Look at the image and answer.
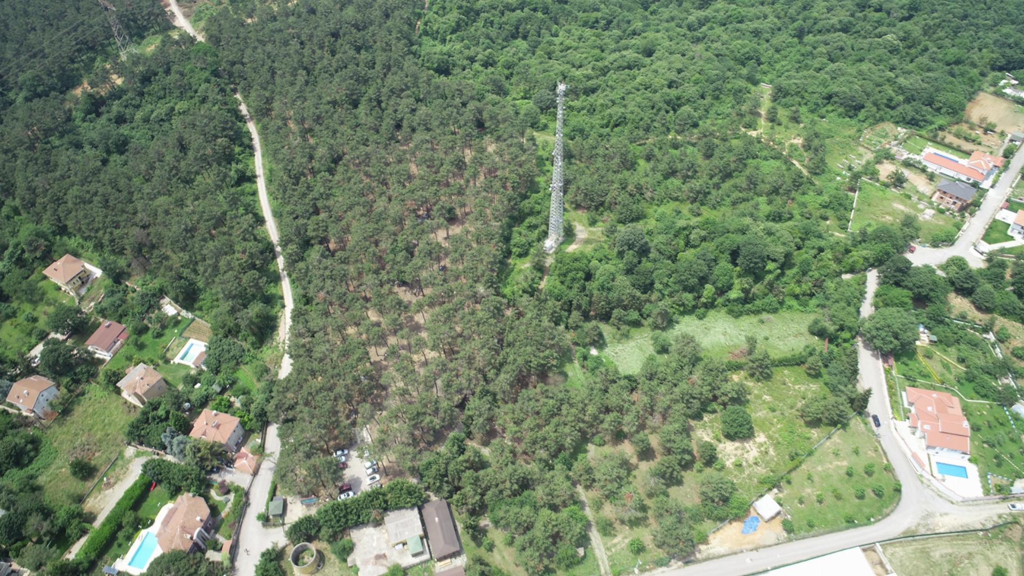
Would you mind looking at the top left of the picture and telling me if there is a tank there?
No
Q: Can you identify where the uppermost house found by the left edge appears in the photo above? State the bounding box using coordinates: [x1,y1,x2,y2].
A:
[42,256,93,294]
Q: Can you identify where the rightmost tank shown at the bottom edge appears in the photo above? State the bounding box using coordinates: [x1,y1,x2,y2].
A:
[289,541,322,575]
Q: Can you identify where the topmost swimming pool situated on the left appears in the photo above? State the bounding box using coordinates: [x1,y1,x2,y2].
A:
[178,341,206,364]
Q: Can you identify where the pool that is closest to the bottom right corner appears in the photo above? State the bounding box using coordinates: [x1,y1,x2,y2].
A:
[933,459,971,480]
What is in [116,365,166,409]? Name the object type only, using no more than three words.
house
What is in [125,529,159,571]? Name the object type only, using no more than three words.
swimming pool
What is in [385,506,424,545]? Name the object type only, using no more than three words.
shed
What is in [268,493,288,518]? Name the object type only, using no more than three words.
building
